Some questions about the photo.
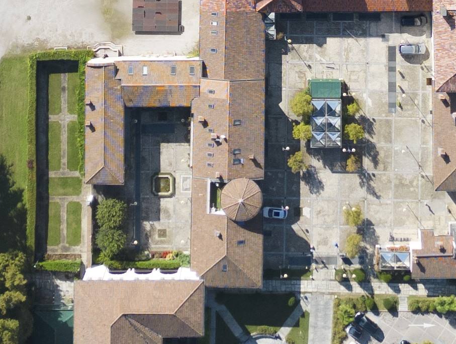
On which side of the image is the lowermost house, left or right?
left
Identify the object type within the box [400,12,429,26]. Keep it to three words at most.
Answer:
car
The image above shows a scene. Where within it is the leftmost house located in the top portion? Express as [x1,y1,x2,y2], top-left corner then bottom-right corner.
[84,55,199,186]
